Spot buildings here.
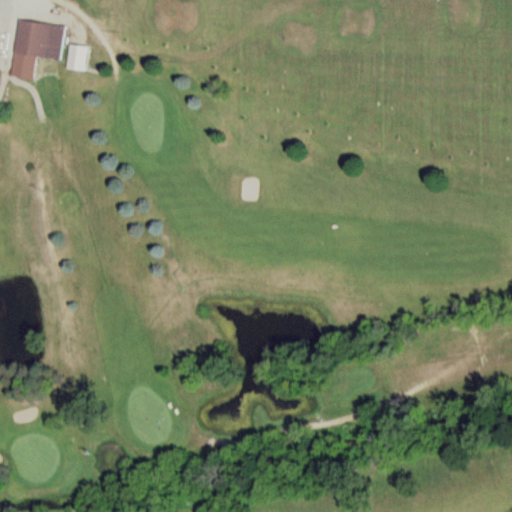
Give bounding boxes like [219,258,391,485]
[11,18,68,78]
[66,44,90,72]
